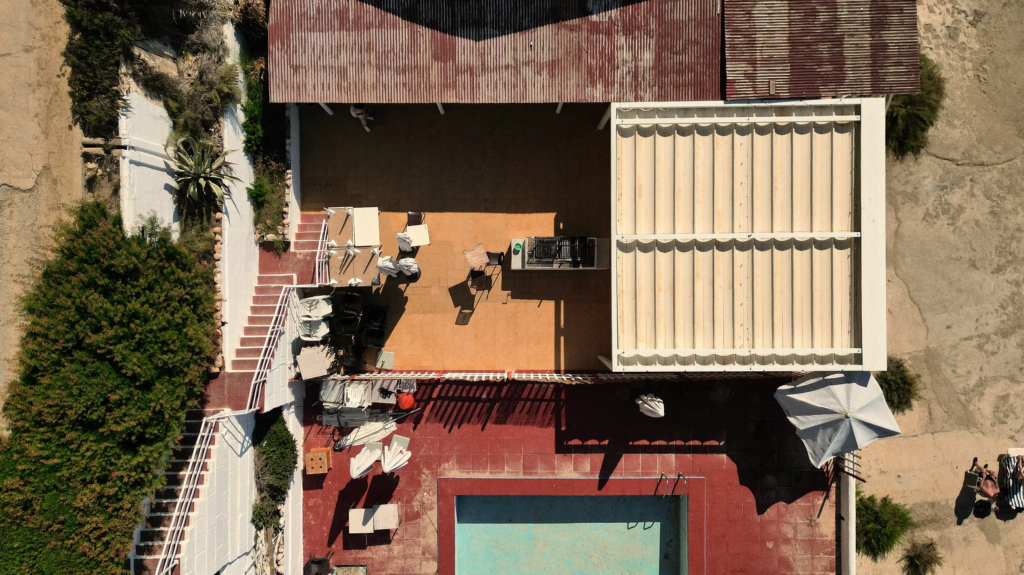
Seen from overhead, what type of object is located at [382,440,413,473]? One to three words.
umbrella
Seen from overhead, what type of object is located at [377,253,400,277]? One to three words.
umbrella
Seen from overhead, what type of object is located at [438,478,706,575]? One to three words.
swimming pool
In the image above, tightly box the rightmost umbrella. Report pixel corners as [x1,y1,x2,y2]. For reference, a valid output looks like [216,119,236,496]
[774,354,901,469]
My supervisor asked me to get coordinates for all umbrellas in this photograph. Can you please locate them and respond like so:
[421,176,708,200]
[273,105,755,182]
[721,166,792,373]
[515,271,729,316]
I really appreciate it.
[353,448,380,479]
[399,230,423,252]
[377,253,400,277]
[334,419,398,448]
[367,405,403,419]
[399,257,424,276]
[382,440,413,473]
[317,403,373,427]
[774,354,901,469]
[636,392,664,416]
